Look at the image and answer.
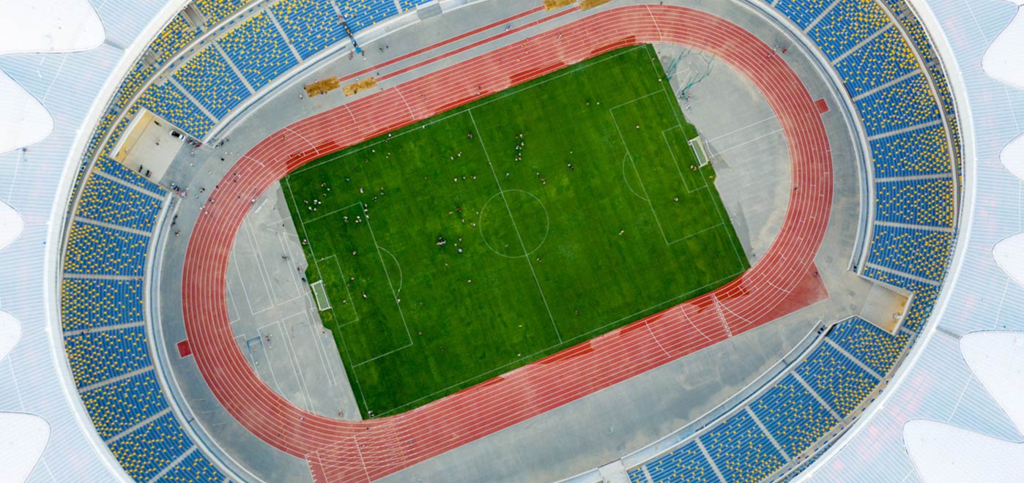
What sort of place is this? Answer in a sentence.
This looks like a sports ground.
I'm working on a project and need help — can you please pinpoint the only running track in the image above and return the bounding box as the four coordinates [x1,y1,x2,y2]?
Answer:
[176,5,834,483]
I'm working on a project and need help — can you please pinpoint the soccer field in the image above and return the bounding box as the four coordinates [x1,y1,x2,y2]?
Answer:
[279,43,752,421]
